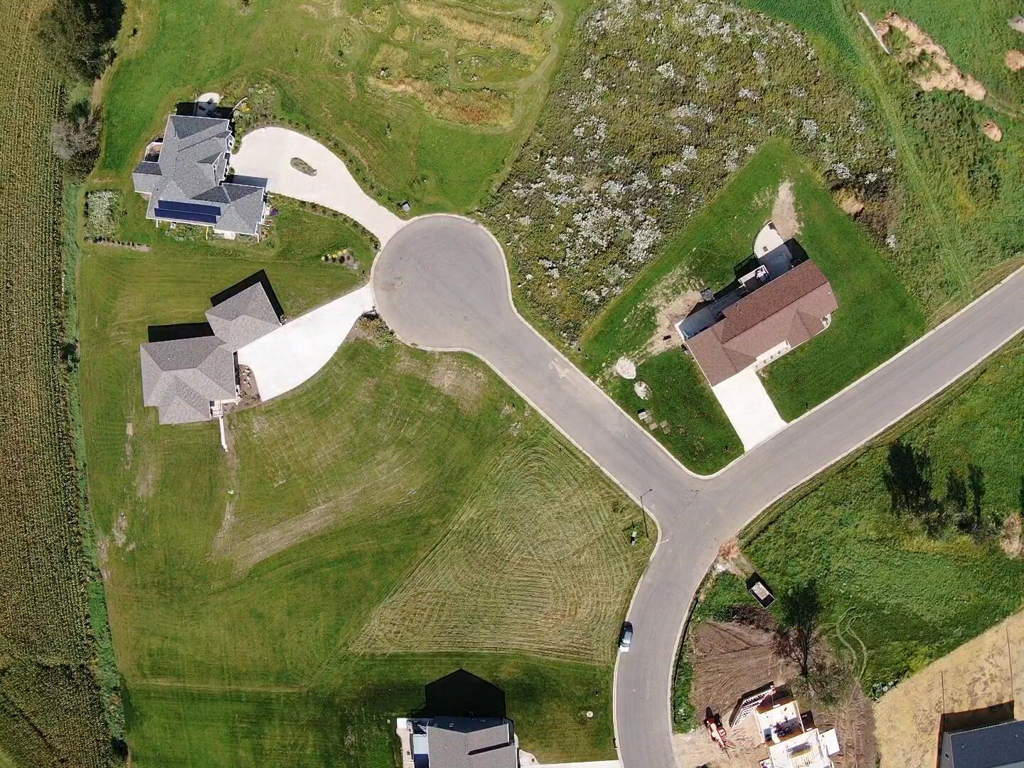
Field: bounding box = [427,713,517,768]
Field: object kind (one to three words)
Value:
house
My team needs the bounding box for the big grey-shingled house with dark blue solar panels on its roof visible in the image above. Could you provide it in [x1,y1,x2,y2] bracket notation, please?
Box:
[133,115,271,243]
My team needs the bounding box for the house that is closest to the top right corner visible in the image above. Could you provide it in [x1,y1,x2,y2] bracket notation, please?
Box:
[684,259,838,387]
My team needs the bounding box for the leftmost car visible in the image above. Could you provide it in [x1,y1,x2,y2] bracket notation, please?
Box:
[618,624,631,649]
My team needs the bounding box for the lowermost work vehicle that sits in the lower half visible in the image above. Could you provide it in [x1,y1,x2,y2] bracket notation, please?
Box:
[709,720,731,755]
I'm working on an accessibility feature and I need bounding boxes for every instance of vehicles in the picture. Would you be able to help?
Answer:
[709,720,731,755]
[618,624,631,649]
